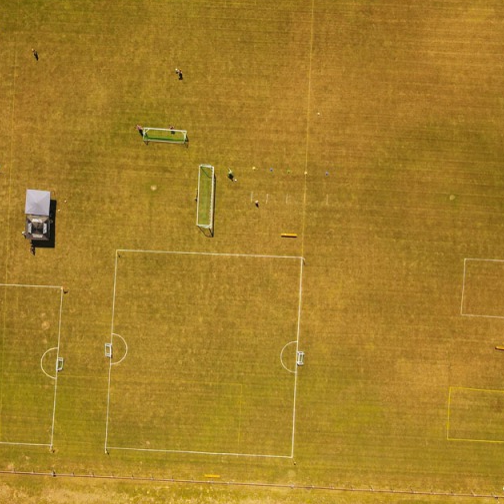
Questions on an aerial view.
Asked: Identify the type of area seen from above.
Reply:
sports ground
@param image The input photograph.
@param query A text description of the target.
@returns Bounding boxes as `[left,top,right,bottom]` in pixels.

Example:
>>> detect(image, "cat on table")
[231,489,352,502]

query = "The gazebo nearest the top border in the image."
[25,189,52,215]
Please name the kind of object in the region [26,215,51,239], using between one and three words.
gazebo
